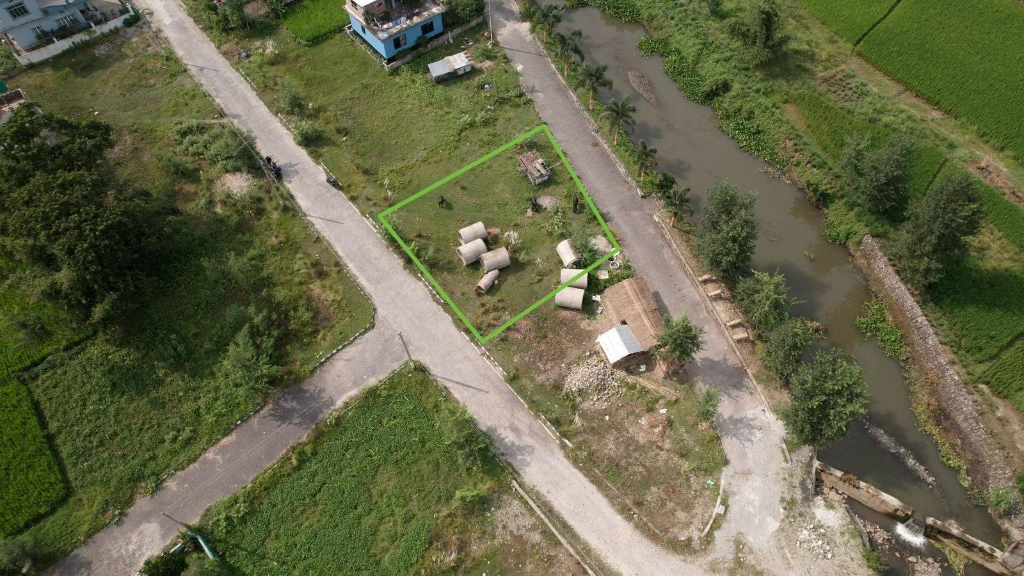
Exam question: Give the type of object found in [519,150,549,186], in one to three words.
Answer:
shed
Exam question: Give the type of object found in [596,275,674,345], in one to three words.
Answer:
shed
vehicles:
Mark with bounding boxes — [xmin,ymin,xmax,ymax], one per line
[271,163,282,179]
[265,158,280,170]
[325,170,337,185]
